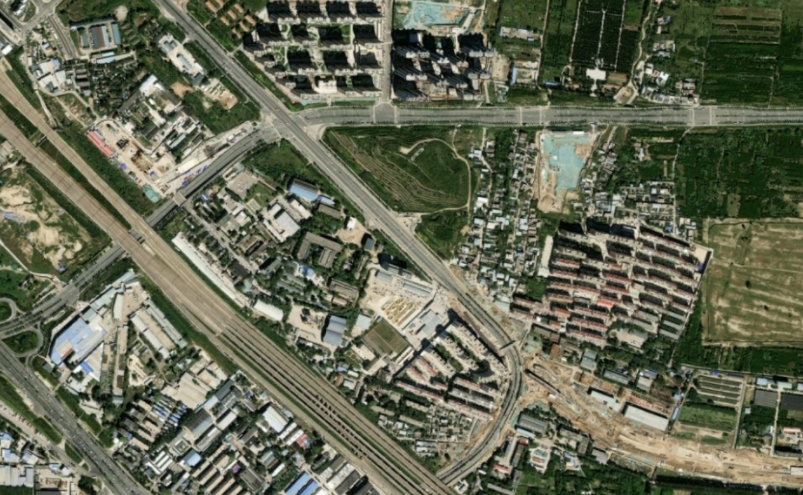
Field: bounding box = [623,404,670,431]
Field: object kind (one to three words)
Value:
building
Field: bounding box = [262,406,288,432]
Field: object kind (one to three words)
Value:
building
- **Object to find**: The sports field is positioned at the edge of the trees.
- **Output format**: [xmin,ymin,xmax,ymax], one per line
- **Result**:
[362,318,405,358]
